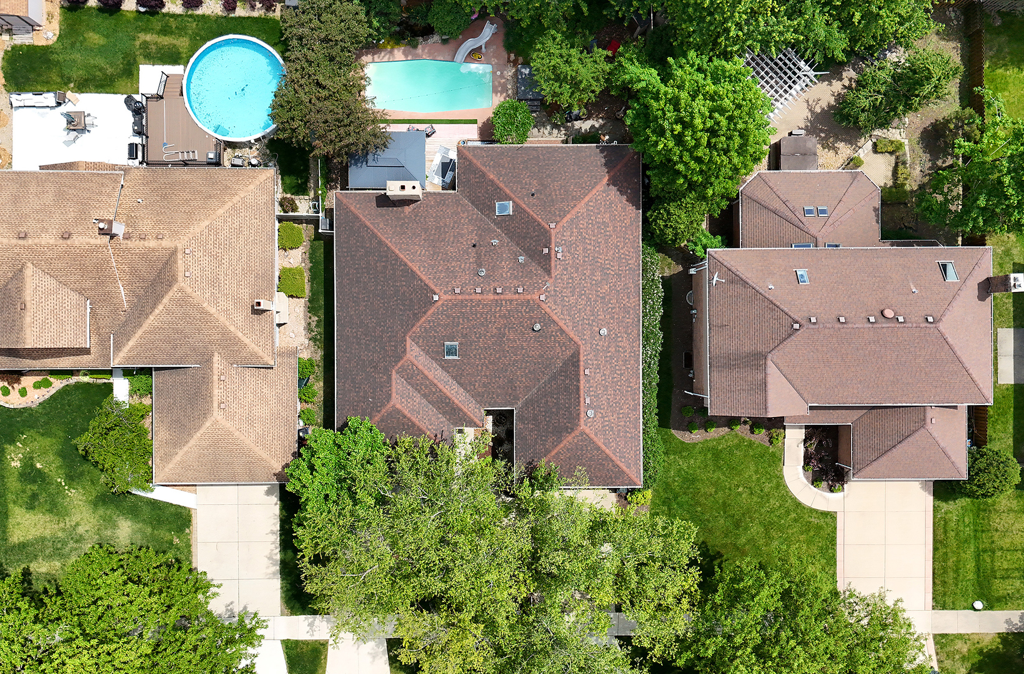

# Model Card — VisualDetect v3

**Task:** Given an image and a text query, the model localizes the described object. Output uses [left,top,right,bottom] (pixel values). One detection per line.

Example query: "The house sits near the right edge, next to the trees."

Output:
[676,170,1024,482]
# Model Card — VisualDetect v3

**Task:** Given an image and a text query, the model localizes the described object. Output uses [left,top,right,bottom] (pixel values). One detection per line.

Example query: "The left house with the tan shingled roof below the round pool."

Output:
[0,161,301,486]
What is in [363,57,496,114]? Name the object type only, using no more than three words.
swimming pool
